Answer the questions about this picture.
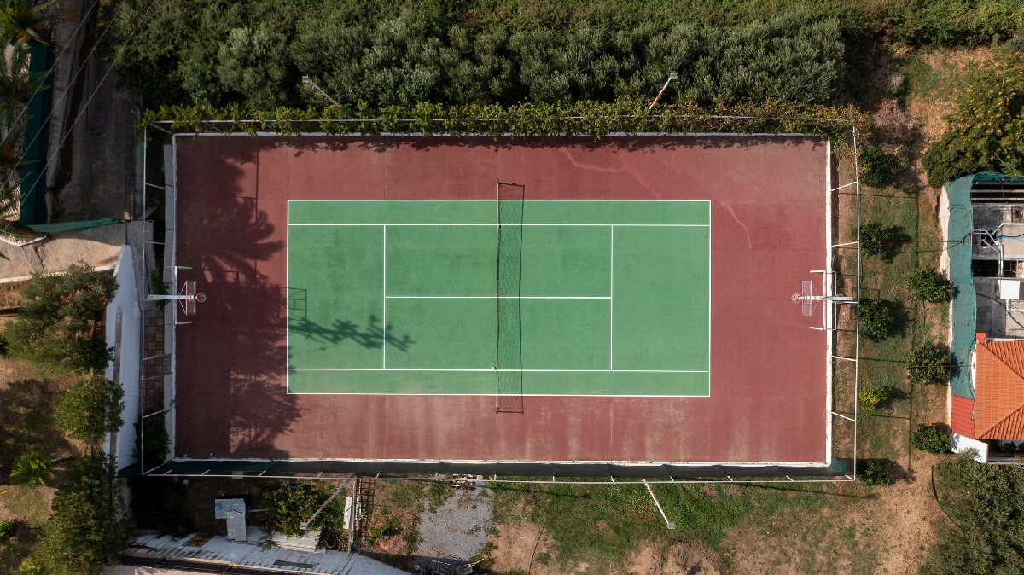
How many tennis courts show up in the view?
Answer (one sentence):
The picture shows 1 tennis court.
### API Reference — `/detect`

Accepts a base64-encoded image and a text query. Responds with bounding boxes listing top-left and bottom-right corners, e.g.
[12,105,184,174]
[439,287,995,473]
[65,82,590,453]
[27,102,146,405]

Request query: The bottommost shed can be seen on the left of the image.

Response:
[117,528,420,575]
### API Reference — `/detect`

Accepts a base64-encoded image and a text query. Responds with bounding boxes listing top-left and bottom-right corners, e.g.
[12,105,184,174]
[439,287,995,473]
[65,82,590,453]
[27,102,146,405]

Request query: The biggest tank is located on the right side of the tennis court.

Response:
[994,280,1023,300]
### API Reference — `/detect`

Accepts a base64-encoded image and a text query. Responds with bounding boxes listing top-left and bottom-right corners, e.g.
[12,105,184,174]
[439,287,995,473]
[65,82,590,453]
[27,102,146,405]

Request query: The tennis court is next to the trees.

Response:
[175,135,827,462]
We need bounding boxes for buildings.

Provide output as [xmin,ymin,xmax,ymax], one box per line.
[944,177,1024,464]
[117,528,420,575]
